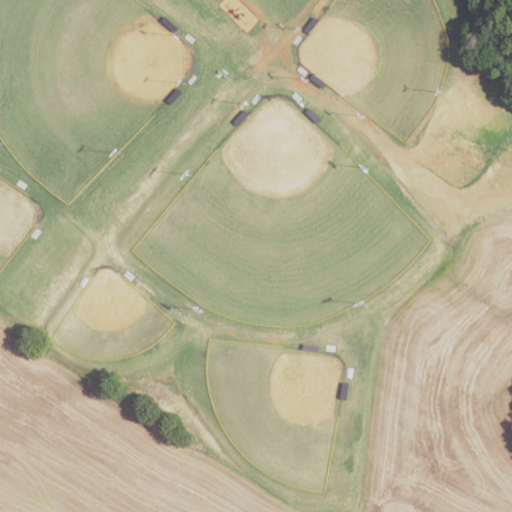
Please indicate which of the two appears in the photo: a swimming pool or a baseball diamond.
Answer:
baseball diamond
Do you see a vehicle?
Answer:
No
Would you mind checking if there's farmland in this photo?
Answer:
Yes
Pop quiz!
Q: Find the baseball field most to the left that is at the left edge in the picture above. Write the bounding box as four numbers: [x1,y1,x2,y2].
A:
[0,179,43,266]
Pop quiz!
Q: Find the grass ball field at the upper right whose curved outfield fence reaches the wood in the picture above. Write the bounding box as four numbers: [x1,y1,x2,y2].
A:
[298,0,447,140]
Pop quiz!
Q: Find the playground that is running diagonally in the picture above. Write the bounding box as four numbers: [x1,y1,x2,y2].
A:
[219,0,259,32]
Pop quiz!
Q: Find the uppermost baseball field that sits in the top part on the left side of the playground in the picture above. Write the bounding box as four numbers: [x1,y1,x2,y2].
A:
[0,0,192,203]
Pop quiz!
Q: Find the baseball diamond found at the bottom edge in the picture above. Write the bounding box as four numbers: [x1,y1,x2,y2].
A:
[208,340,344,490]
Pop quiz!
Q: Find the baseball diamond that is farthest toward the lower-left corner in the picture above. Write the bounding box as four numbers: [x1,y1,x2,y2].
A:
[52,266,174,360]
